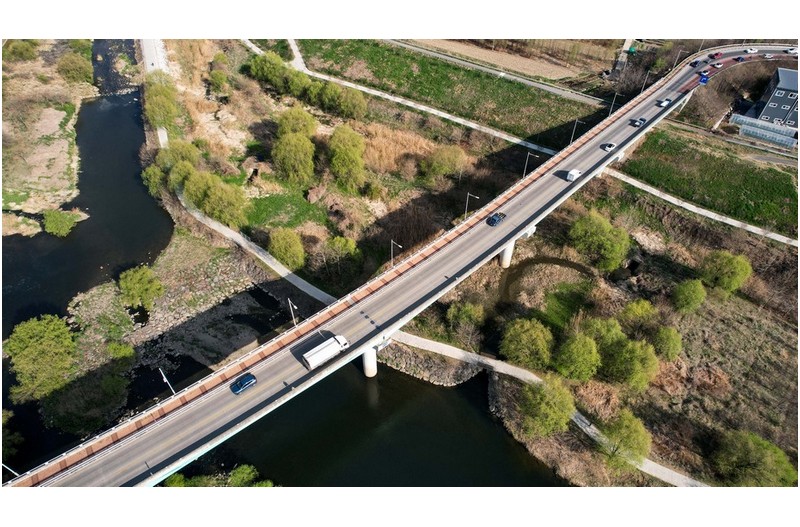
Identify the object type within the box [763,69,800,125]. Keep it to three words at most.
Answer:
building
